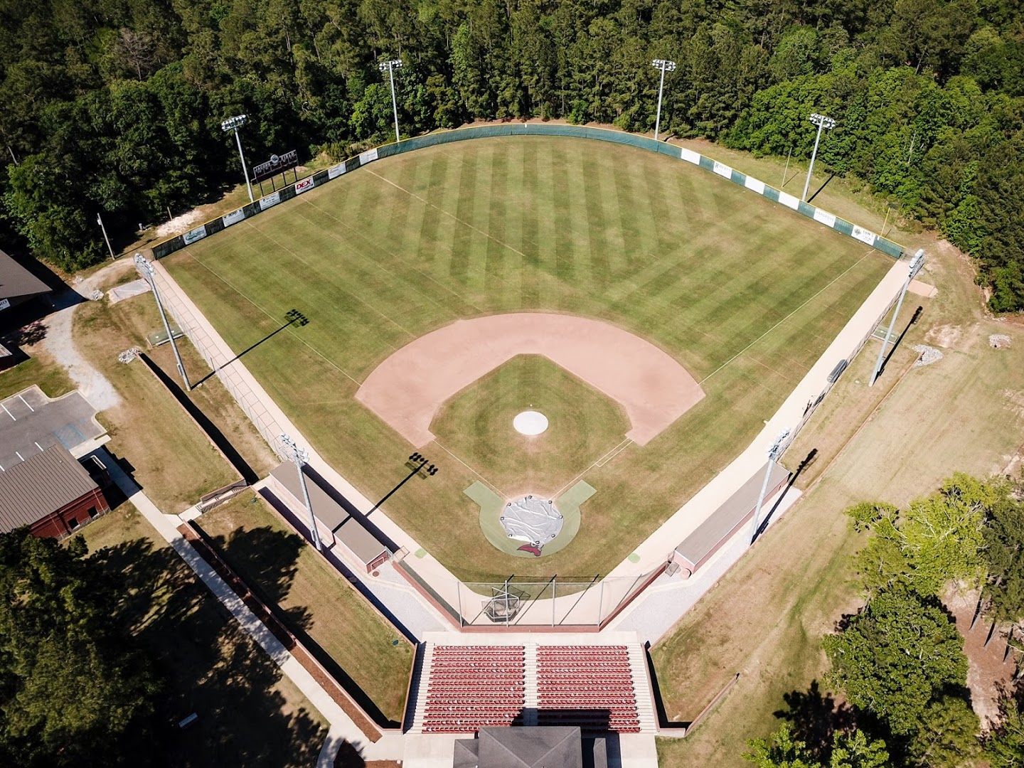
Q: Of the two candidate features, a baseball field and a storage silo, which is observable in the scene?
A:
baseball field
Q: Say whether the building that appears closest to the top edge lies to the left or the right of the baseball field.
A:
on its left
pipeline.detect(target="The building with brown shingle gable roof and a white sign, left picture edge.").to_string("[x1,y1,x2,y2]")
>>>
[0,250,52,330]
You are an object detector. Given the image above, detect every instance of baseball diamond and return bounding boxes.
[136,135,919,624]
